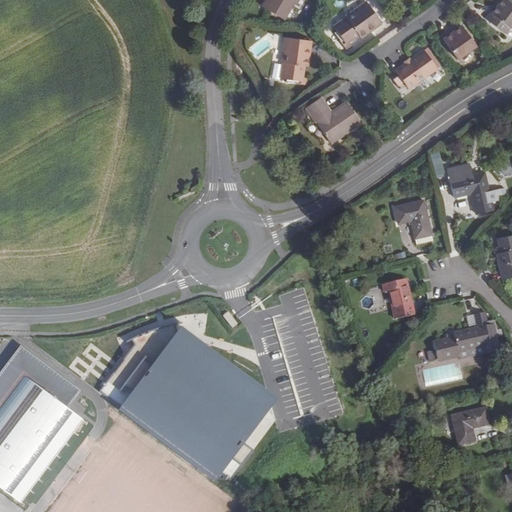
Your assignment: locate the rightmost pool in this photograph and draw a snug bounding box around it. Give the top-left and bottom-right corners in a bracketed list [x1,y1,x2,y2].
[422,361,464,388]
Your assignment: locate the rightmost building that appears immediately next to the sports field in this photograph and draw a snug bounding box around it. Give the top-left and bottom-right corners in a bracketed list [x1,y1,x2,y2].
[101,311,276,483]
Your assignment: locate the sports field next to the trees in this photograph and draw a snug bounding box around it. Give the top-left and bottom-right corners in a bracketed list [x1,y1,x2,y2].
[44,404,233,512]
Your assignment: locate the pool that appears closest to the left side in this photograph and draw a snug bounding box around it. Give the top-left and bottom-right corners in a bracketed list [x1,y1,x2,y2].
[249,33,276,60]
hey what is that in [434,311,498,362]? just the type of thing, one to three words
house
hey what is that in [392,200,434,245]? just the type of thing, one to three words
house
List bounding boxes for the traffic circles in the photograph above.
[164,198,274,300]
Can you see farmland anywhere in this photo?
Yes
